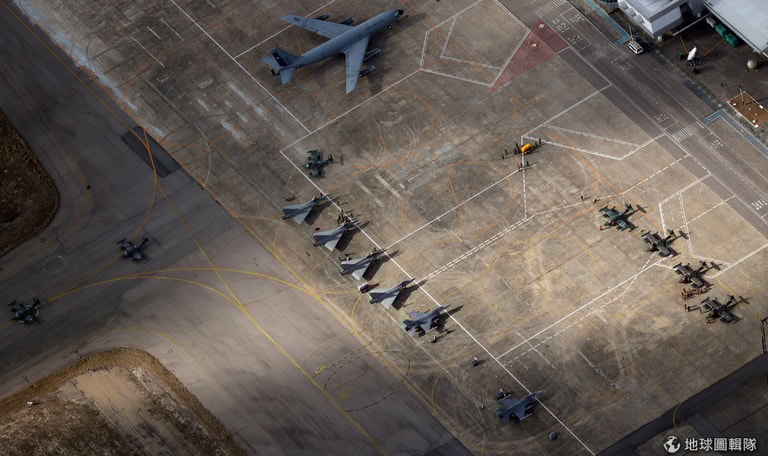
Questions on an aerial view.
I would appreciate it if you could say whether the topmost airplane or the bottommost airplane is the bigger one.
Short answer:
the topmost airplane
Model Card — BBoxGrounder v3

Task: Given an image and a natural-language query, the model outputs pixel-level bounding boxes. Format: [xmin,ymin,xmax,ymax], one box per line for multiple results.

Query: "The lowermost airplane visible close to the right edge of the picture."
[700,295,736,323]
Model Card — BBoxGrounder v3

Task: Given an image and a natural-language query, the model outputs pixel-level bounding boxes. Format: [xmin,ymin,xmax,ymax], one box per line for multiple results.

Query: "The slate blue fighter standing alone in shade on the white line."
[494,389,545,422]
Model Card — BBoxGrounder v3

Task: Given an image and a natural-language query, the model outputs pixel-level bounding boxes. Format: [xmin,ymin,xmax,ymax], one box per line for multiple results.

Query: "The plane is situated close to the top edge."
[262,10,404,95]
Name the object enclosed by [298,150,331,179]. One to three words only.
airplane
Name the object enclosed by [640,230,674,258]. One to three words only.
airplane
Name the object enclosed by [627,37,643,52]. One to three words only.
vehicle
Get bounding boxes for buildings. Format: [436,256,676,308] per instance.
[609,0,685,39]
[694,0,768,60]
